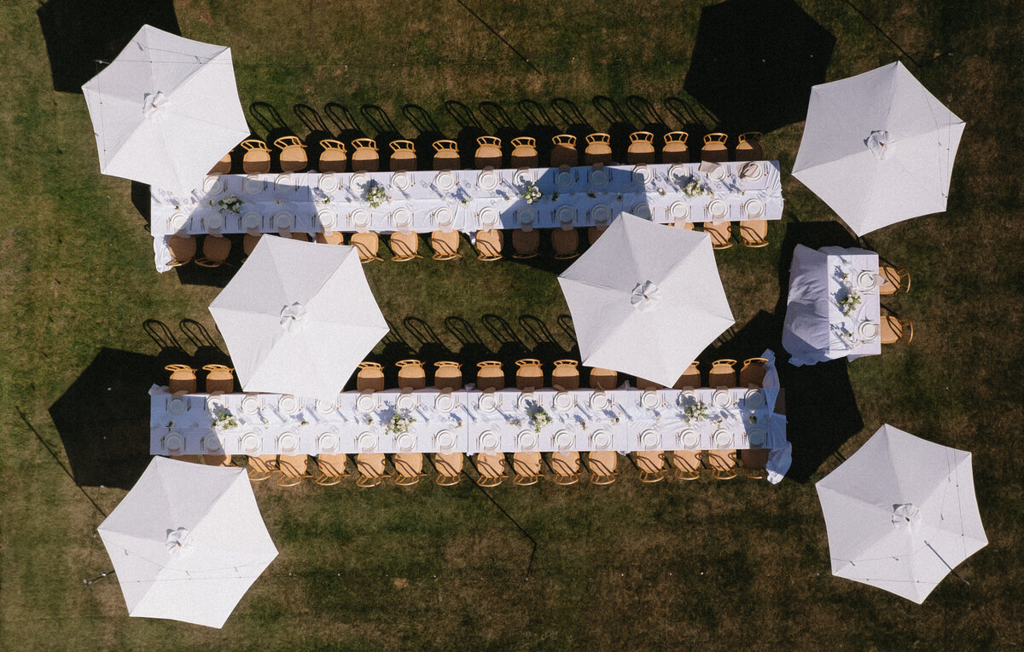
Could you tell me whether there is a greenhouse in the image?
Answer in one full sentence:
No, there is no greenhouse in the image.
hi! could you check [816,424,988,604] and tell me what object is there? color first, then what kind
white umbrella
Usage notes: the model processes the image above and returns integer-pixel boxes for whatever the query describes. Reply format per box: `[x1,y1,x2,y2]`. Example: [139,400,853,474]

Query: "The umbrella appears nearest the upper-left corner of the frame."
[83,24,250,195]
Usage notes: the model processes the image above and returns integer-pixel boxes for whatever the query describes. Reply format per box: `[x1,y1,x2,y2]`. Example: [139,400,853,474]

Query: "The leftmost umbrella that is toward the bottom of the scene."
[98,456,279,629]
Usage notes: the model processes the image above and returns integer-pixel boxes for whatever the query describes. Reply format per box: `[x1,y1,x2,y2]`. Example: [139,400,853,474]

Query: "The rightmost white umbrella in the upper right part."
[792,61,965,236]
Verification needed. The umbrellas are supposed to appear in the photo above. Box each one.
[558,212,735,388]
[83,24,250,195]
[816,424,988,604]
[209,234,390,401]
[792,61,965,236]
[98,456,279,629]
